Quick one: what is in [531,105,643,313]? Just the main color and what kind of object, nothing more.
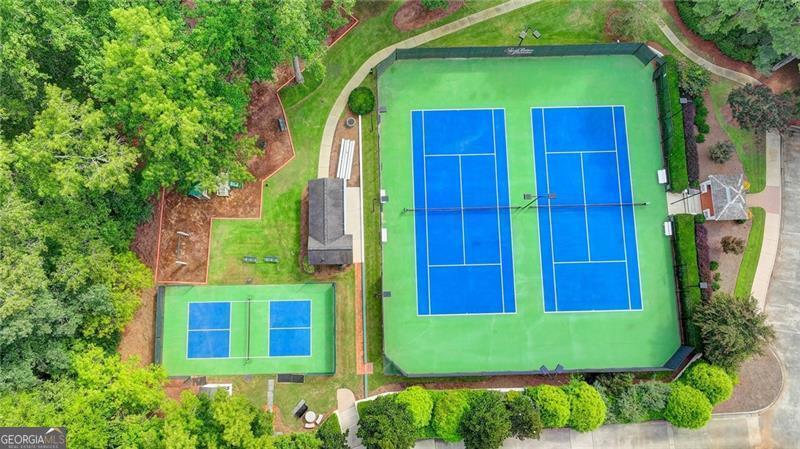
blue tennis court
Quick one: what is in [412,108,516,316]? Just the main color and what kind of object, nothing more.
blue tennis court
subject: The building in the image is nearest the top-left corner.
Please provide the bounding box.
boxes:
[306,176,353,269]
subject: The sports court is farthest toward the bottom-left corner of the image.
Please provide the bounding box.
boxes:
[162,283,332,376]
